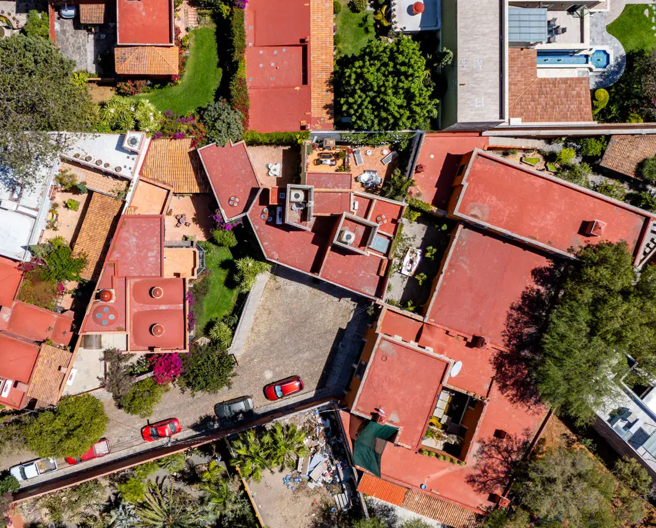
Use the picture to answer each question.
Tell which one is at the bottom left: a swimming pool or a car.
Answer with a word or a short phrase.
car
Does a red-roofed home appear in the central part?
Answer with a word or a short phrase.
Yes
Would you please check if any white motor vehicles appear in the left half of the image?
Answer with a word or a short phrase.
Yes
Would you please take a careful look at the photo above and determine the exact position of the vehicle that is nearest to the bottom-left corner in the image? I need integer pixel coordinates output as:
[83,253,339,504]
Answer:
[10,455,60,482]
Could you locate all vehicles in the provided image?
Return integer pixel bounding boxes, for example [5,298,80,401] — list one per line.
[68,437,115,465]
[140,417,182,442]
[212,394,256,420]
[10,455,60,482]
[59,7,76,30]
[262,375,306,401]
